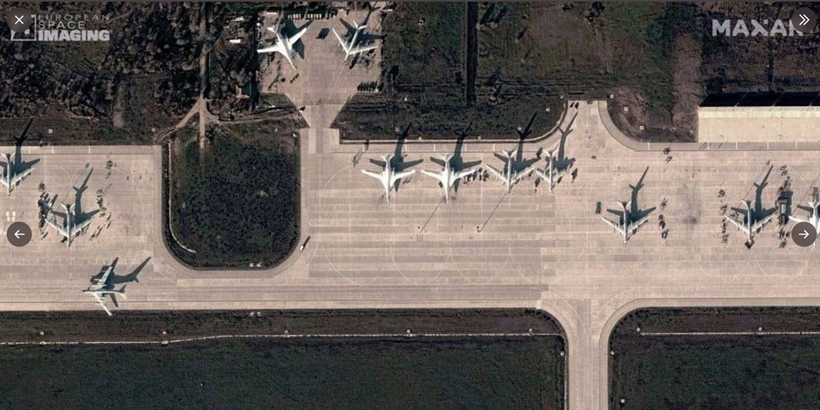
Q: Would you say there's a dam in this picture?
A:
No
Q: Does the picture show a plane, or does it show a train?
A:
plane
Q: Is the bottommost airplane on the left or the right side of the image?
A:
left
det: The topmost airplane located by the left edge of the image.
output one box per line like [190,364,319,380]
[0,150,34,199]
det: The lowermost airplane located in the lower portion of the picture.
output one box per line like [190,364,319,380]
[82,266,128,316]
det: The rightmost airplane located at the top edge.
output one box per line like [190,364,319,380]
[333,16,380,62]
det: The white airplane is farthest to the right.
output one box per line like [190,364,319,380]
[787,202,820,250]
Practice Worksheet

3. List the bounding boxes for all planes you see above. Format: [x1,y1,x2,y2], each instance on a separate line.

[787,202,820,250]
[333,16,380,62]
[82,266,128,316]
[361,154,416,203]
[0,150,34,199]
[43,199,93,247]
[725,197,775,243]
[601,198,651,247]
[484,147,533,195]
[420,154,474,203]
[534,146,569,192]
[257,24,306,70]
